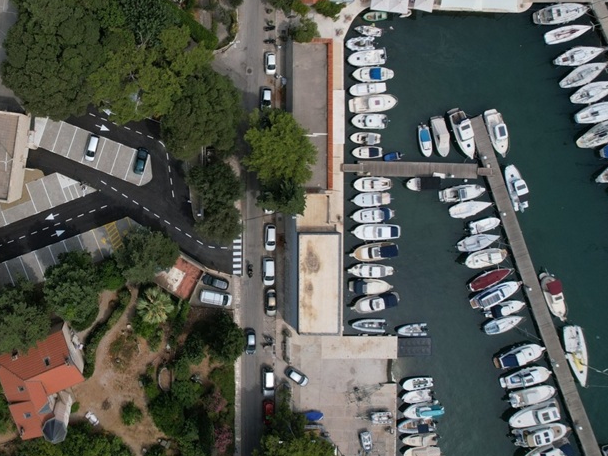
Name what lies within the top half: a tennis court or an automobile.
automobile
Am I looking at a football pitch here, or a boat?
boat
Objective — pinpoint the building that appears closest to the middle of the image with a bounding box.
[287,228,341,335]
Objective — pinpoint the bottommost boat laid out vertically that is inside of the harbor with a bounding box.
[361,430,374,456]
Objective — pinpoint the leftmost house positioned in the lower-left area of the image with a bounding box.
[0,318,85,441]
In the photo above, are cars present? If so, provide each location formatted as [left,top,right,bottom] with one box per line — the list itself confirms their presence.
[263,223,277,252]
[262,256,275,285]
[261,365,275,396]
[244,328,257,353]
[133,146,149,177]
[200,273,230,291]
[260,86,273,112]
[84,133,101,162]
[262,396,273,422]
[283,366,309,387]
[263,204,275,217]
[264,287,278,316]
[264,51,277,77]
